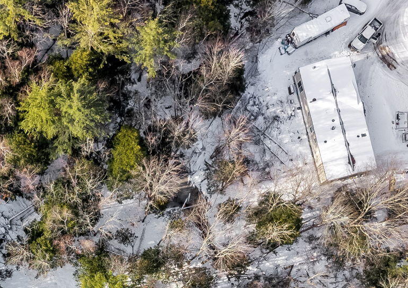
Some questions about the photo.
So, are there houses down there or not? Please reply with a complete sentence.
Yes, the image includes a house.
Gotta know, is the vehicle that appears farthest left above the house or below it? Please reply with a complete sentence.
The vehicle that appears farthest left is found above the house in the photo.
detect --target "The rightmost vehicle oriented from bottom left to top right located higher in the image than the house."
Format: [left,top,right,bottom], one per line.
[349,16,385,55]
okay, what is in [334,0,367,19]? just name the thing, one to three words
car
